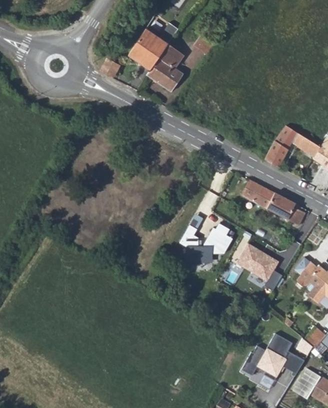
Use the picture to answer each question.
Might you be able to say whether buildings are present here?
Yes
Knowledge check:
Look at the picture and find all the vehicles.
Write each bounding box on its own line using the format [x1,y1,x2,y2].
[208,214,218,222]
[297,180,308,188]
[215,135,226,142]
